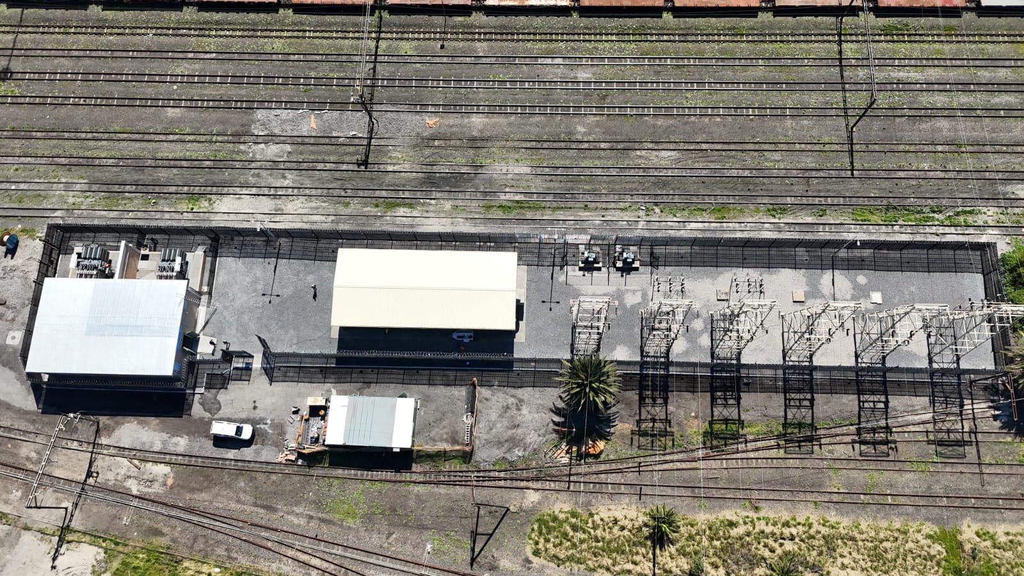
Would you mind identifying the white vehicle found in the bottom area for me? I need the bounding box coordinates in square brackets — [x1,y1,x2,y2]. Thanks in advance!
[210,419,254,438]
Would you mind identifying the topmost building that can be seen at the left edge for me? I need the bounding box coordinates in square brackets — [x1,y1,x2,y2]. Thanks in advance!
[28,277,208,382]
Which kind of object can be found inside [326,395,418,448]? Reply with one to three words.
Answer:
shed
